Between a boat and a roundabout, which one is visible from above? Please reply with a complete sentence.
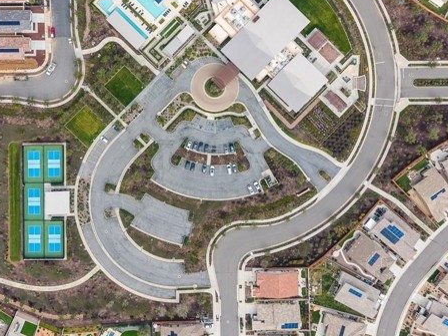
This aerial view contains a roundabout.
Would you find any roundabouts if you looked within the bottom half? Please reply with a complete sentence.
No, no roundabout appears within the bottom half.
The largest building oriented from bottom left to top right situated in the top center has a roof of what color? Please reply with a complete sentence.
The color of the roof on the largest building oriented from bottom left to top right situated in the top center is white.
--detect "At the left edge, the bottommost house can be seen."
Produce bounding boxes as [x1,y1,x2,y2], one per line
[0,37,32,59]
